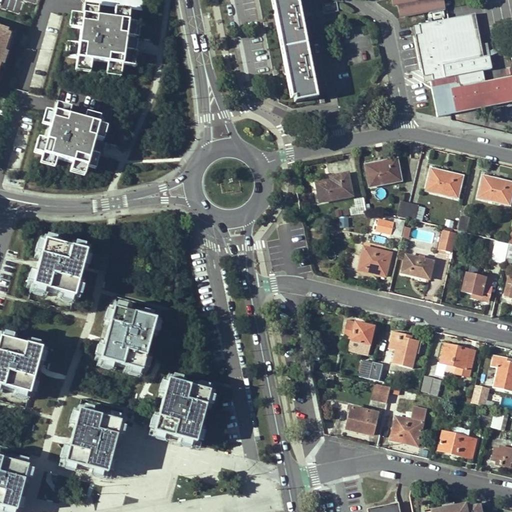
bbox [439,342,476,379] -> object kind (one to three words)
house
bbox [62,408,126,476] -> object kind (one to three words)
building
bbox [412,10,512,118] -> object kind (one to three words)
building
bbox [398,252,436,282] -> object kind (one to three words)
house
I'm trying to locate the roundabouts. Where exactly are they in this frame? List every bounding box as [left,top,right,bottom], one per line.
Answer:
[203,158,254,209]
